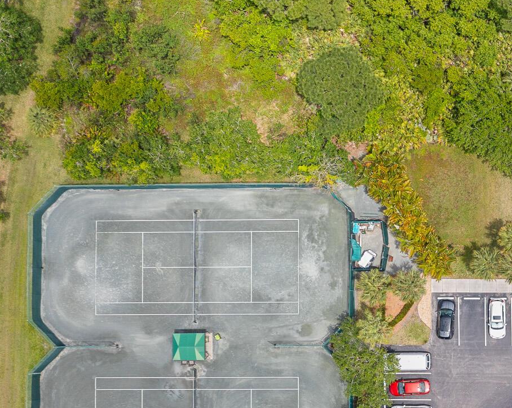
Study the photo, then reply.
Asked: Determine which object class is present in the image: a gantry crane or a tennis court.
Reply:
tennis court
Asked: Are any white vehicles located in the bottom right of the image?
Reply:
Yes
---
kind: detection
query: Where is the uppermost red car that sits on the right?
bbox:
[390,378,431,397]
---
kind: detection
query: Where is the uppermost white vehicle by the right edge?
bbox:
[487,299,506,339]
